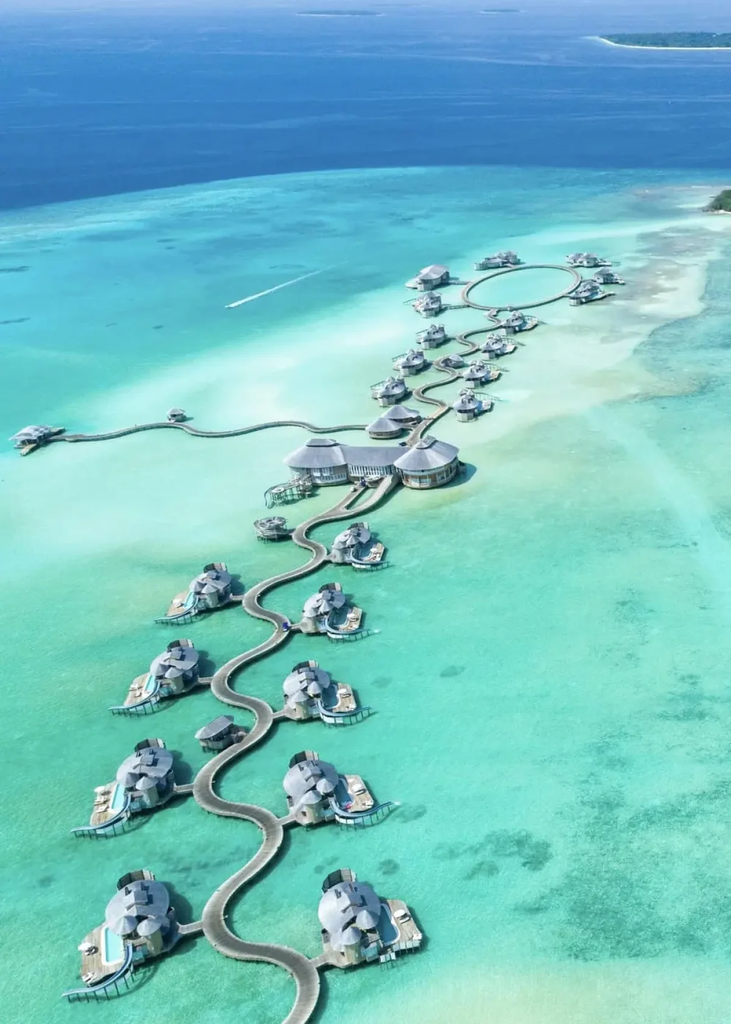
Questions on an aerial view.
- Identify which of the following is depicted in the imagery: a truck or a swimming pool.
swimming pool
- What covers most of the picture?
water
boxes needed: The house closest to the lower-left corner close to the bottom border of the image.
[62,864,178,999]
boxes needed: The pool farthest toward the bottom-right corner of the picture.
[375,902,401,950]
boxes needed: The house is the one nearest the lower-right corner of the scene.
[318,868,422,977]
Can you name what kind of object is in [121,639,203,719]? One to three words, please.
house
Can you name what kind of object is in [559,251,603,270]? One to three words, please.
house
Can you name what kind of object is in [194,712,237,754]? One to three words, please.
building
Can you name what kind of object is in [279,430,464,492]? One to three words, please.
building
